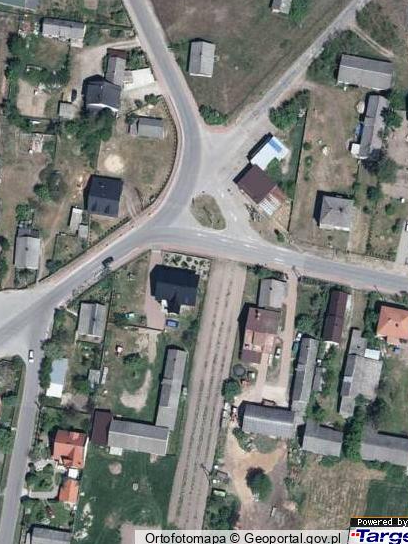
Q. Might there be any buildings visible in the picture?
Yes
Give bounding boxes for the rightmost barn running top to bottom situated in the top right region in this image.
[360,94,389,157]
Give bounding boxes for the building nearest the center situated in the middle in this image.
[154,271,198,314]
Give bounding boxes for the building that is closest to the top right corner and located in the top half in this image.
[337,54,394,90]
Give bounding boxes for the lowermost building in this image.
[30,525,73,544]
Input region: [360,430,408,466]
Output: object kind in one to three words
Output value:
barn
